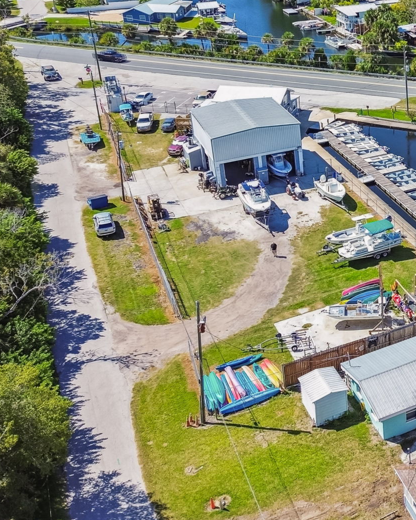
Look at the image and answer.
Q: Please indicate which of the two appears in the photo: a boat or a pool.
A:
boat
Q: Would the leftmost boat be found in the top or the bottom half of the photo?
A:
top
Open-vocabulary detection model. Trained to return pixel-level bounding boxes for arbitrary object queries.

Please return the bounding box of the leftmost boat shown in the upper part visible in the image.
[77,119,98,144]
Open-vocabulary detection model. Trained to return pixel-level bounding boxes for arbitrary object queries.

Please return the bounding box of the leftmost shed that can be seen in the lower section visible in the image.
[295,365,349,424]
